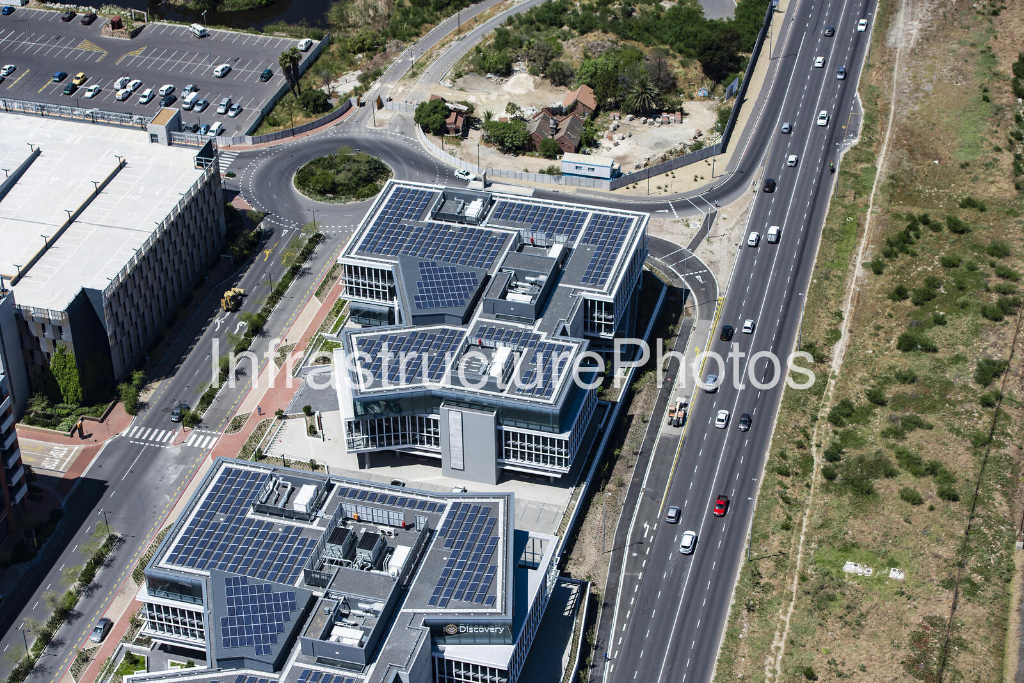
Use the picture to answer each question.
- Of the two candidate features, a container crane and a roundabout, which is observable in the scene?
roundabout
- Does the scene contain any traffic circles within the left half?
Yes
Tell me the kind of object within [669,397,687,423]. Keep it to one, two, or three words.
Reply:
work vehicle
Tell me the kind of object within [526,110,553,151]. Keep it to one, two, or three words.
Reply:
house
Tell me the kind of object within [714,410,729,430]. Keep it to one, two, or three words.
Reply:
car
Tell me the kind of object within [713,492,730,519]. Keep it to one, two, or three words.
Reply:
vehicle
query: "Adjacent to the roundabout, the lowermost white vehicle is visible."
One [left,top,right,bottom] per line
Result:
[452,168,477,181]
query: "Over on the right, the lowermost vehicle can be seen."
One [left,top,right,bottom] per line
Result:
[680,531,697,555]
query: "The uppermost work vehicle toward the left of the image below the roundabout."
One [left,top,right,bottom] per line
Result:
[221,286,249,309]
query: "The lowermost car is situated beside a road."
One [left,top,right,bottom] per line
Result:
[88,618,113,644]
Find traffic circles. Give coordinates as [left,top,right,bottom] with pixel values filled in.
[236,128,450,234]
